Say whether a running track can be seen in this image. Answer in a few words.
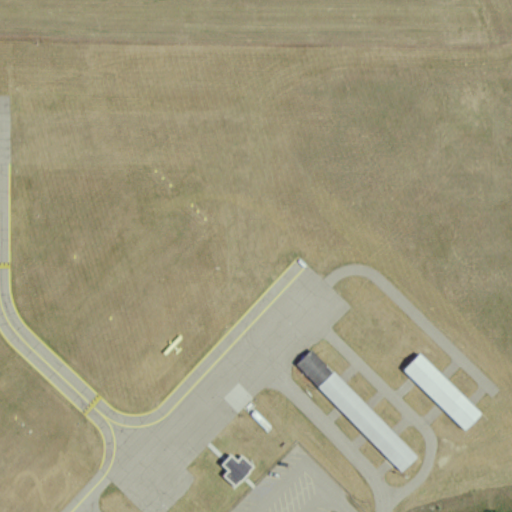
No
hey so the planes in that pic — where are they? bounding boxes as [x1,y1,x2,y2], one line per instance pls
[164,336,182,354]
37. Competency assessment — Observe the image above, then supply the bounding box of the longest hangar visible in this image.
[297,351,418,472]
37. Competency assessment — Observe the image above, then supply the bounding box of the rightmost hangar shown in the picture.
[404,354,482,432]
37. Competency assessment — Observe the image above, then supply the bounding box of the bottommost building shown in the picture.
[222,456,254,488]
